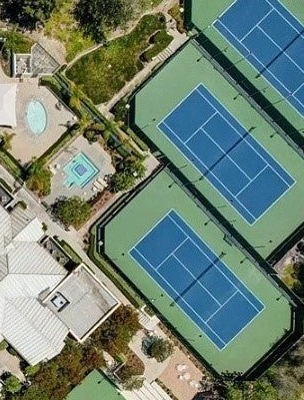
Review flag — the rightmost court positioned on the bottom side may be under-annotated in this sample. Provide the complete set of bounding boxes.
[104,168,293,376]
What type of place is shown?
sports ground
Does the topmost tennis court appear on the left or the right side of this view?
right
